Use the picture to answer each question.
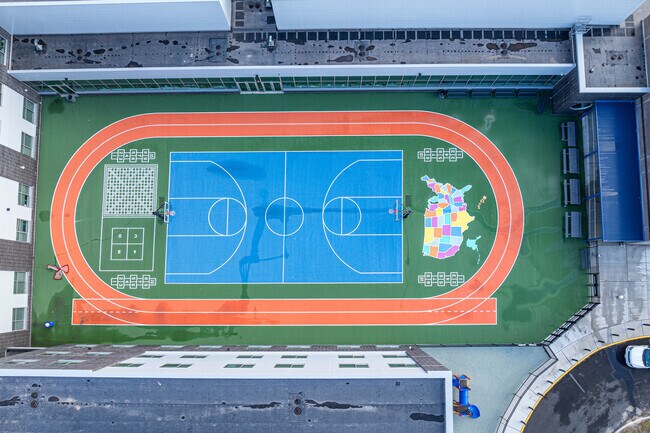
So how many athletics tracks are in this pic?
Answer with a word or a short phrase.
1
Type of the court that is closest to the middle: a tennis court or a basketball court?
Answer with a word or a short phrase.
basketball court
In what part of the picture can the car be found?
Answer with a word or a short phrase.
bottom right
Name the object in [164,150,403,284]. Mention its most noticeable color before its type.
blue basketball court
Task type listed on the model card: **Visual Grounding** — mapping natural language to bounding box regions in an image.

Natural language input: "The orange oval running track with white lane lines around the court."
[50,110,524,325]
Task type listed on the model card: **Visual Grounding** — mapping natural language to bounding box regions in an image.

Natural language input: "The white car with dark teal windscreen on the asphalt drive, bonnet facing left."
[623,345,650,370]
